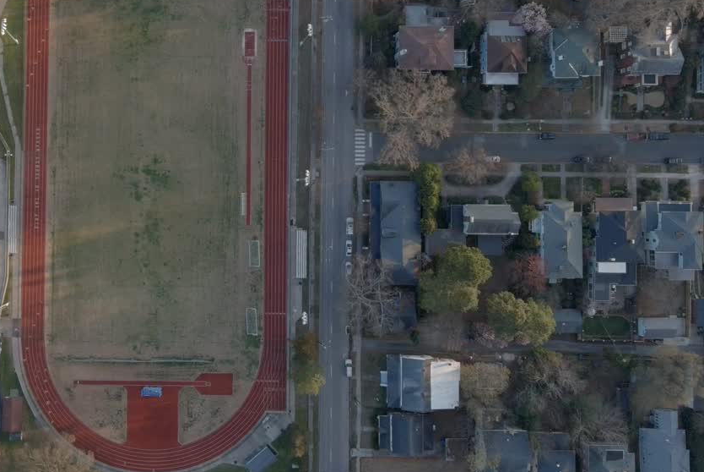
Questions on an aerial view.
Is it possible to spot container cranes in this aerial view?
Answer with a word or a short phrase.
No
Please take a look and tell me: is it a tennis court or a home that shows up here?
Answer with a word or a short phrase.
home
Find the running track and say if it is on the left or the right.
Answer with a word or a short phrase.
left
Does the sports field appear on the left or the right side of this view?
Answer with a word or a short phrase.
left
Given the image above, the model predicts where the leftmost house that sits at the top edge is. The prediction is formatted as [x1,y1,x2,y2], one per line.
[392,6,467,74]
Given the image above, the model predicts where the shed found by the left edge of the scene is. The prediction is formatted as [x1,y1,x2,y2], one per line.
[2,396,22,434]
